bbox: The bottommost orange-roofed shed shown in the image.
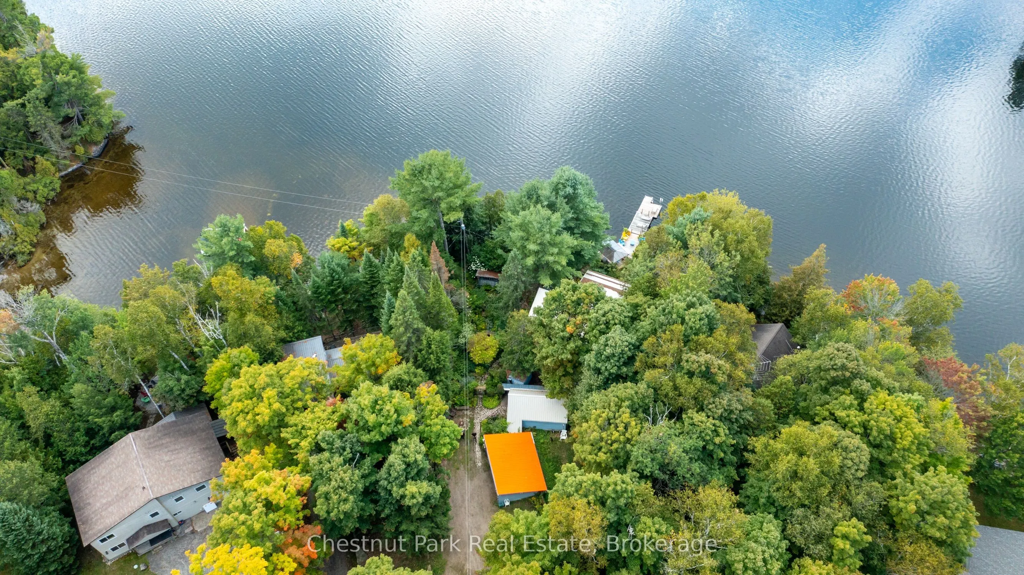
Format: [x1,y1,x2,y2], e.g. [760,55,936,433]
[484,431,547,502]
